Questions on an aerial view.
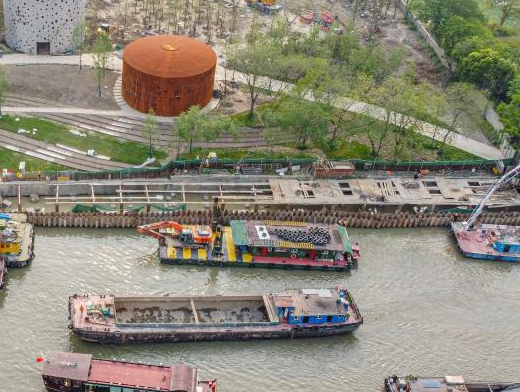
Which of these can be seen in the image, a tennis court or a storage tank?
storage tank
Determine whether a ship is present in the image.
Yes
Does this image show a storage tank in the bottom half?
No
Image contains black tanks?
No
